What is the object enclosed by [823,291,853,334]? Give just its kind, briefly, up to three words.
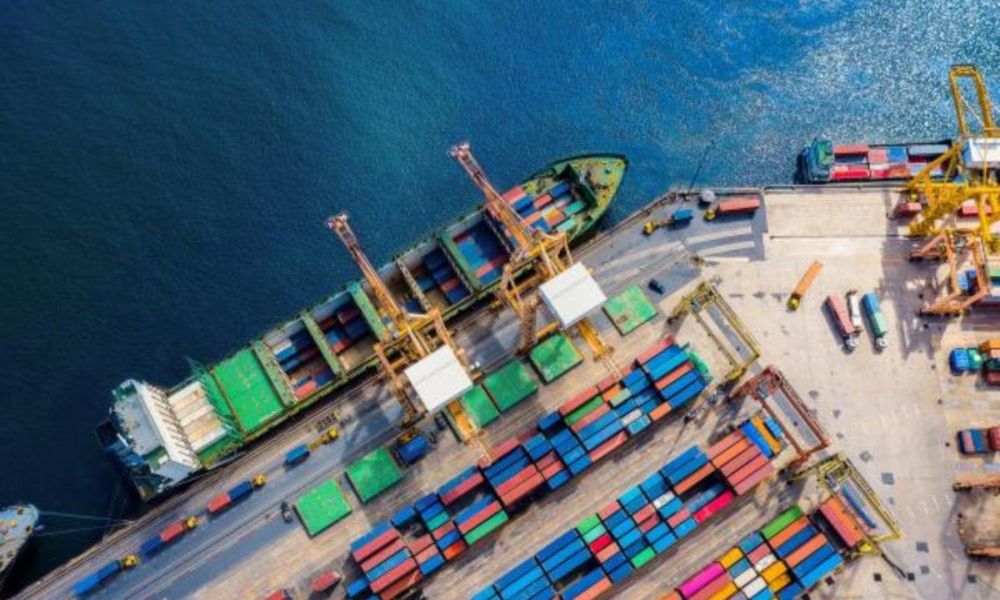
shipping container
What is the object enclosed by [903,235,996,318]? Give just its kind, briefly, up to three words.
container crane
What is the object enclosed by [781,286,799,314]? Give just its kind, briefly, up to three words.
vehicle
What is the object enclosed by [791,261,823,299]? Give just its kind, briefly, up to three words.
shipping container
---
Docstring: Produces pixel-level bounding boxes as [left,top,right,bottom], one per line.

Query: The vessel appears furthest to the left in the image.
[0,509,47,579]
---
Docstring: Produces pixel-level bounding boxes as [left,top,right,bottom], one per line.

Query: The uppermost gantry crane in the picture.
[893,64,1000,243]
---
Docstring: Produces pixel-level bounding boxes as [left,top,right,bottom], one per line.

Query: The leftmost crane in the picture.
[319,206,489,460]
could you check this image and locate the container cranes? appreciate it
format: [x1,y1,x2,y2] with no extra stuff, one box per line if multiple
[319,206,489,460]
[903,235,996,318]
[720,367,840,477]
[660,280,769,390]
[446,133,622,370]
[782,453,918,566]
[893,64,1000,243]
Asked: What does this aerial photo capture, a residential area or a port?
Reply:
port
